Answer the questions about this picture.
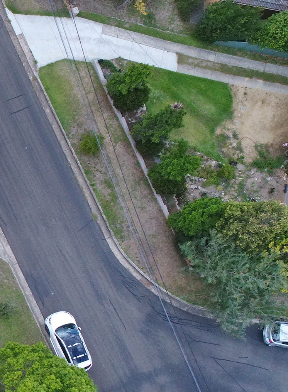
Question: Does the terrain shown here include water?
No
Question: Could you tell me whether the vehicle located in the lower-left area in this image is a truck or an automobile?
automobile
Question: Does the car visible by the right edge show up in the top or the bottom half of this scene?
bottom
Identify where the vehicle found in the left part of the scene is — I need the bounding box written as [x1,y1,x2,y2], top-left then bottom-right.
[47,308,100,375]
